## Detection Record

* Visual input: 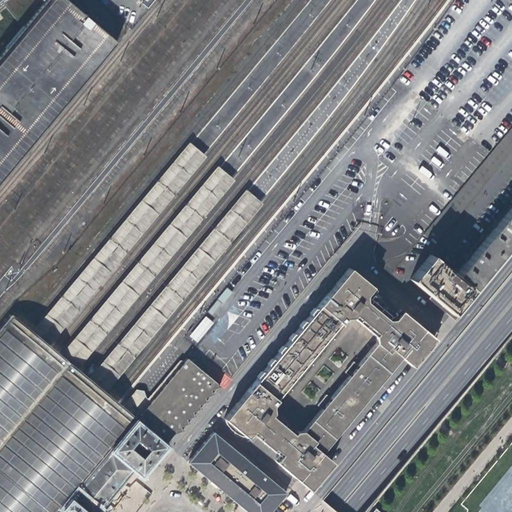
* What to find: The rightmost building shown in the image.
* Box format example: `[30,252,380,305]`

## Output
[458,206,512,290]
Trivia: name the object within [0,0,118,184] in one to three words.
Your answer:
building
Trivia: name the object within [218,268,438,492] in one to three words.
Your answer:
building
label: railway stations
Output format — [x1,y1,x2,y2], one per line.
[0,314,136,512]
